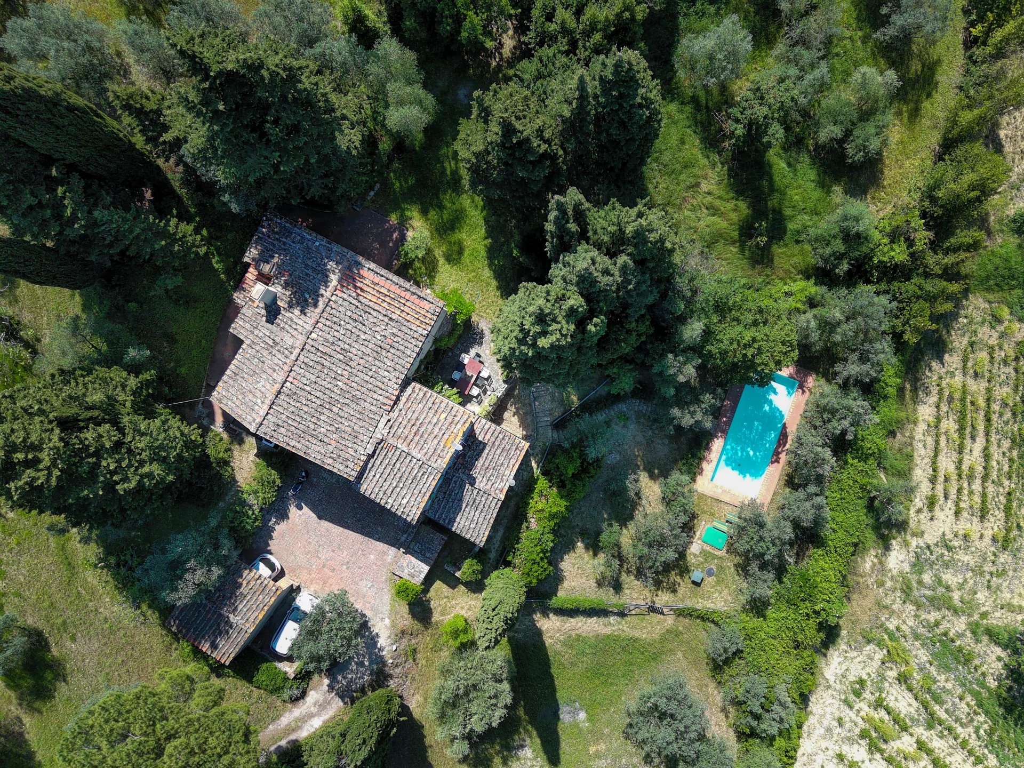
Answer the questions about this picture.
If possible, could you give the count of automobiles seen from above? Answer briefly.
two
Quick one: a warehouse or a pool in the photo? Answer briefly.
pool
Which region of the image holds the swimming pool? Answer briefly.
right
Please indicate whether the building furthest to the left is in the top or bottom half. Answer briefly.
bottom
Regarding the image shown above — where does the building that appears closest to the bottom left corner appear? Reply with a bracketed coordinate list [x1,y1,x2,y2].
[163,552,309,667]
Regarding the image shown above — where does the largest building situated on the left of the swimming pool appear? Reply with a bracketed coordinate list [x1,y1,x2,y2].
[208,210,532,548]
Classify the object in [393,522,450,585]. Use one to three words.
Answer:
shed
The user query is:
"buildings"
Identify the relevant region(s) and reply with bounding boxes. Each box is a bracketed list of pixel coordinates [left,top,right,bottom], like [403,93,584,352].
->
[163,552,309,667]
[208,210,532,548]
[393,522,450,585]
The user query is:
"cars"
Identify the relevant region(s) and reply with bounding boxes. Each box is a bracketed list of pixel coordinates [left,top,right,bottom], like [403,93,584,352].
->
[254,550,289,580]
[274,581,329,657]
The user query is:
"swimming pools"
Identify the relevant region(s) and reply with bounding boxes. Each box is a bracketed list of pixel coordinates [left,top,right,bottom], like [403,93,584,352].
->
[697,350,815,511]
